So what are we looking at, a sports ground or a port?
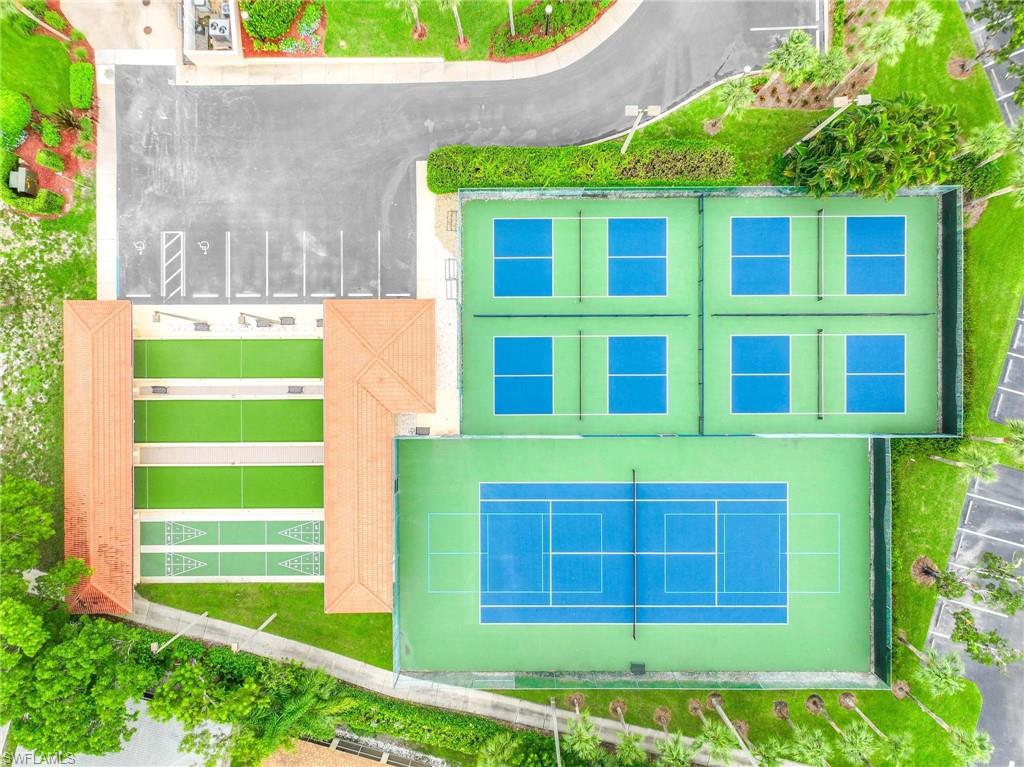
sports ground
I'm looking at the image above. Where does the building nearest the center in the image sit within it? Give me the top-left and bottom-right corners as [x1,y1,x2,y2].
[323,299,436,614]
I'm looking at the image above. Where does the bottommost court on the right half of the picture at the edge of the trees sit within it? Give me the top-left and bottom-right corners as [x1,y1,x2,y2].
[399,437,869,671]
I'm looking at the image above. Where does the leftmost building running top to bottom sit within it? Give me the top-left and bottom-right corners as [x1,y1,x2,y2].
[63,300,135,615]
